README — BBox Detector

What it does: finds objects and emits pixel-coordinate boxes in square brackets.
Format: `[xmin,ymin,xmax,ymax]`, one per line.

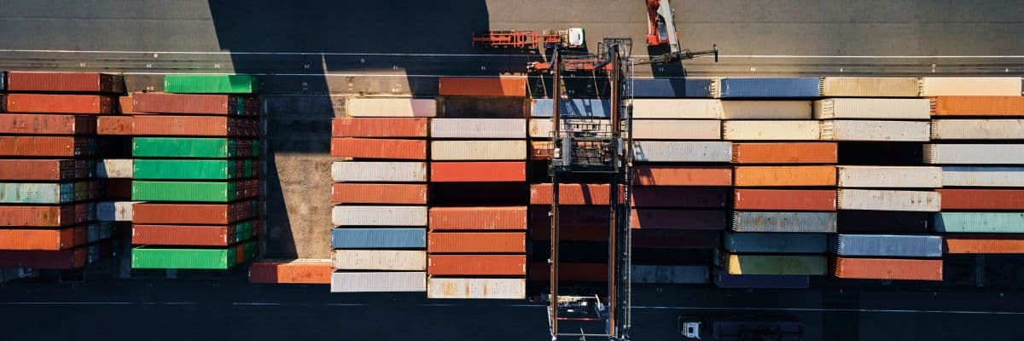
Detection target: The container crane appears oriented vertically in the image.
[525,38,636,341]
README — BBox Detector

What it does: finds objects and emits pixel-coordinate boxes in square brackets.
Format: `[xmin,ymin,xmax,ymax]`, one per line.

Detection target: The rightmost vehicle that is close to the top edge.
[626,0,720,71]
